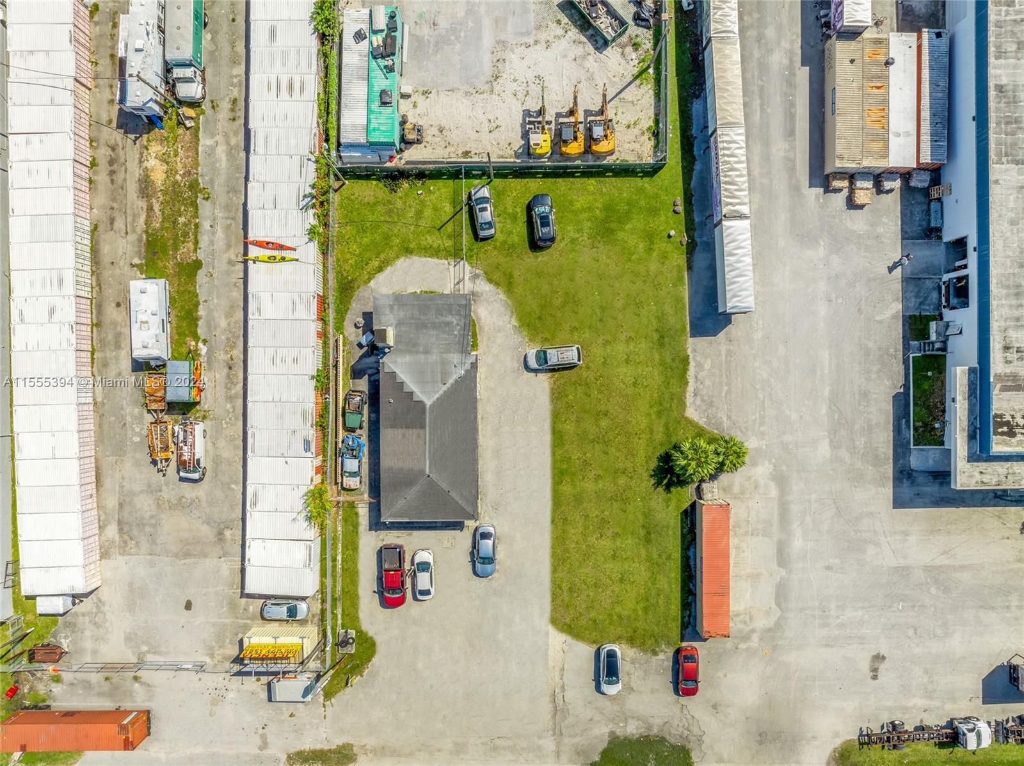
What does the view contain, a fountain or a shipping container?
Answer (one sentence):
This aerial view contains a shipping container.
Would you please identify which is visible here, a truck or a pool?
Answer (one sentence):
I can see a truck in this picture.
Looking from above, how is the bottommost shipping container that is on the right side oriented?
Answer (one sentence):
The bottommost shipping container that is on the right side is laid out up and down.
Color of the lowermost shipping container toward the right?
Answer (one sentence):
From above, the lowermost shipping container toward the right appears orange.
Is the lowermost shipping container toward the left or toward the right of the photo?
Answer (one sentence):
It is on the left.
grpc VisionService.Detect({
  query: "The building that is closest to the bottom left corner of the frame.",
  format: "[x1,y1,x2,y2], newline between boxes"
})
[373,294,478,521]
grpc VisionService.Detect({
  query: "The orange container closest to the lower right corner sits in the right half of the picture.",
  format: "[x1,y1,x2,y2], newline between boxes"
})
[695,497,730,639]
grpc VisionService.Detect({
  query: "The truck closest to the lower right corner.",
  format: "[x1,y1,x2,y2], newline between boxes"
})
[993,716,1024,754]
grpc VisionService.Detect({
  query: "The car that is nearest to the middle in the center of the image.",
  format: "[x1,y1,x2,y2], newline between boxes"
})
[526,346,582,374]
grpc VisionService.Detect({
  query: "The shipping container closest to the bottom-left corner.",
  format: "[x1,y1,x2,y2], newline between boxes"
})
[0,702,153,752]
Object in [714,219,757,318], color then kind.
white trailer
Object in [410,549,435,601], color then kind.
white car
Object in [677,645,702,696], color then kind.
red car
